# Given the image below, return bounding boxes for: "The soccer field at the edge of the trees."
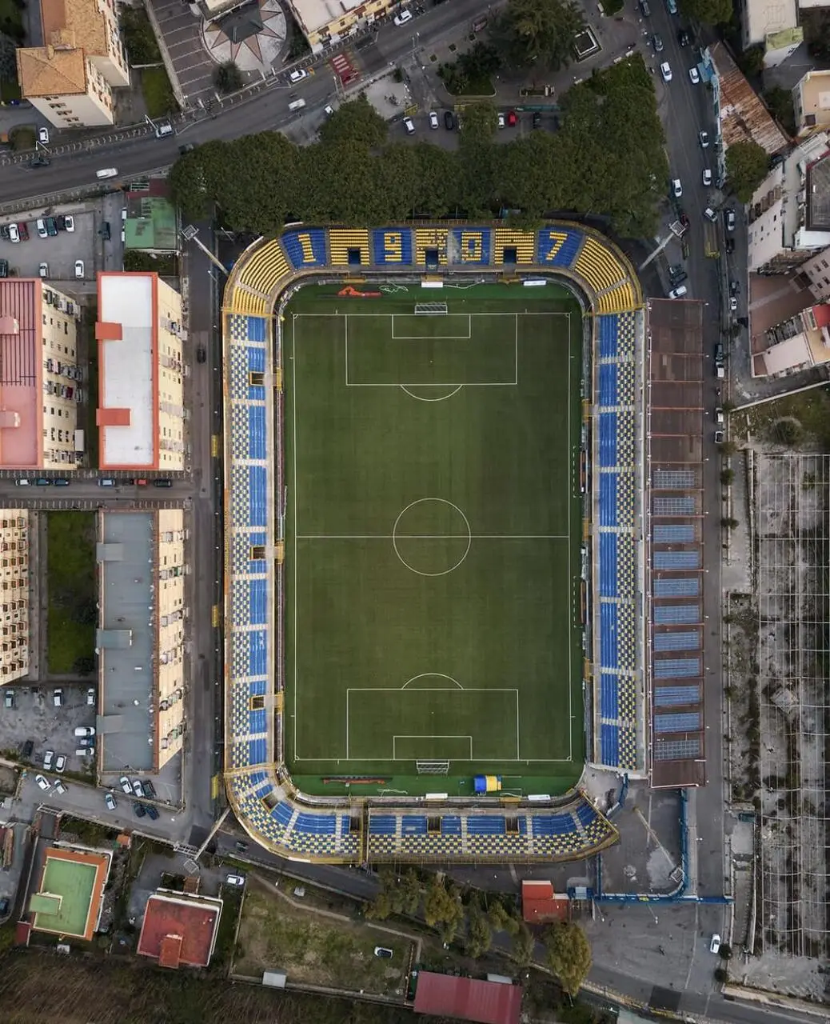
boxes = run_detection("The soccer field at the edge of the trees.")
[283,279,587,798]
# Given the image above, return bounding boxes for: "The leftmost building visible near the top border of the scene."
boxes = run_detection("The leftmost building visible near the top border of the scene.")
[15,0,130,130]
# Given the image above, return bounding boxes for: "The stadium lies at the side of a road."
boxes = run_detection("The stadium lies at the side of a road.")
[221,213,710,867]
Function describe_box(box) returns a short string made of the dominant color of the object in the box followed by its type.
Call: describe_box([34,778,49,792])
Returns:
white car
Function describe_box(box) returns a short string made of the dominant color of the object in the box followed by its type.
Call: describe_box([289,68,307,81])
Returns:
white vehicle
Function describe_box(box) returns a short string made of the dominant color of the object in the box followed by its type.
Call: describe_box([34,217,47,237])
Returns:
white vehicle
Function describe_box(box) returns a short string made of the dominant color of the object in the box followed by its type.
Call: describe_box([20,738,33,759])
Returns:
black vehicle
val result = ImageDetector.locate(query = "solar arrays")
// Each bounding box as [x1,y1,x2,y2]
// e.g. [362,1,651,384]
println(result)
[652,470,694,488]
[654,685,700,705]
[653,578,699,597]
[655,739,700,760]
[654,605,699,623]
[654,551,699,569]
[653,658,699,677]
[653,631,699,650]
[653,712,700,732]
[653,525,694,543]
